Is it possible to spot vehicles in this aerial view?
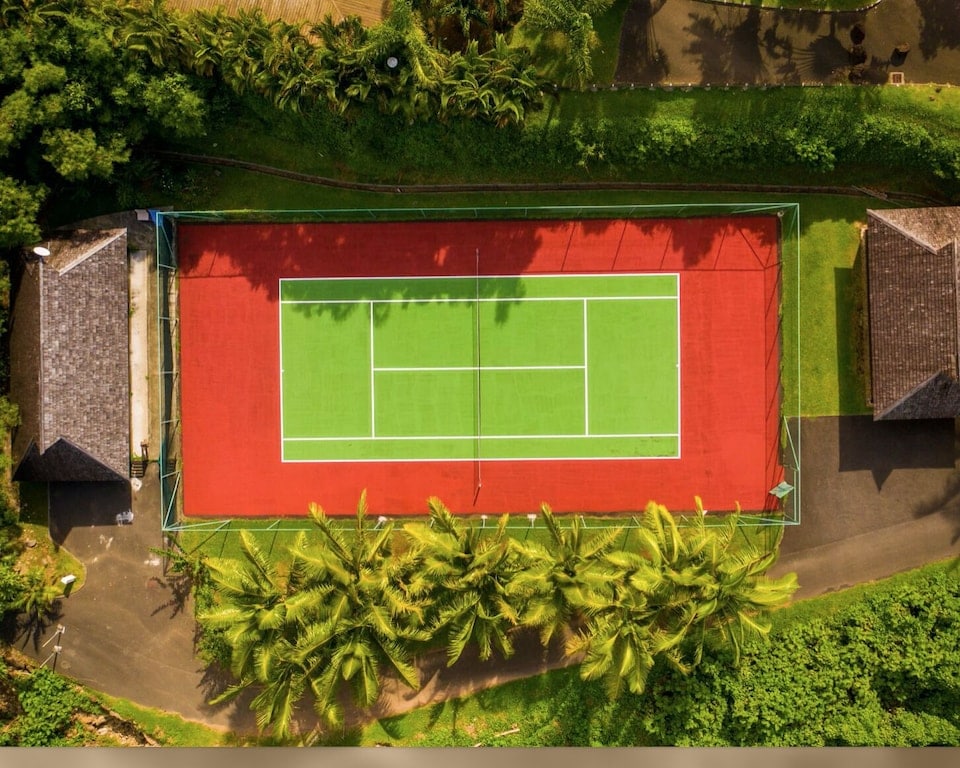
No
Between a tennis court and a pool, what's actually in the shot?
tennis court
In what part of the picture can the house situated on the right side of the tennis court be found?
right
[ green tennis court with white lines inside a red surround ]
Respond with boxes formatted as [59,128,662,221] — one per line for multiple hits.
[174,212,786,520]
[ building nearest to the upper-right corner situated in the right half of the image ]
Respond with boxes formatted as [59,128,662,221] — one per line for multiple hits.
[860,205,960,423]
